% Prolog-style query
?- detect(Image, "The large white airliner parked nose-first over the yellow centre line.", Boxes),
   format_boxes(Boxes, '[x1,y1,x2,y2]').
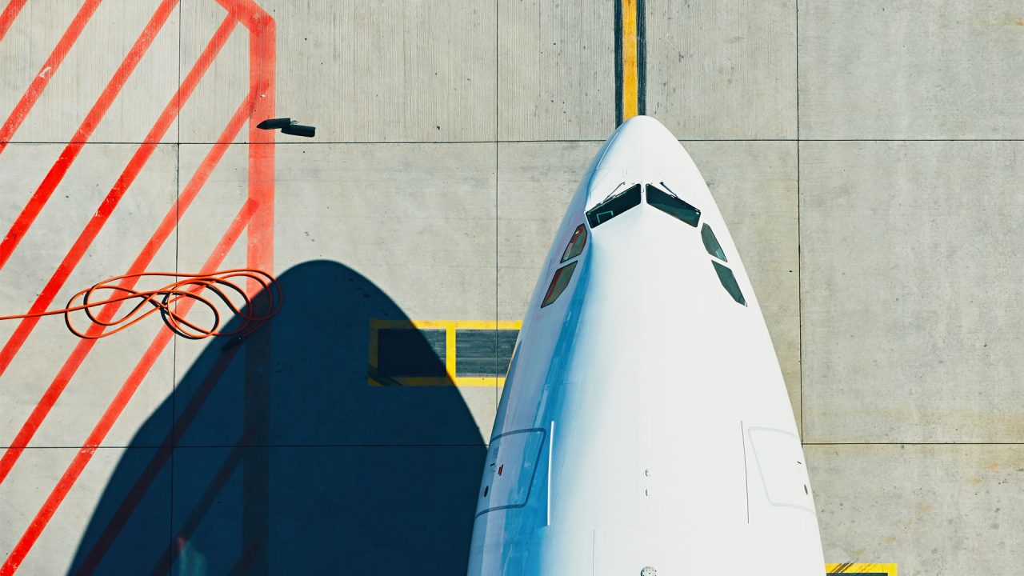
[466,115,827,576]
